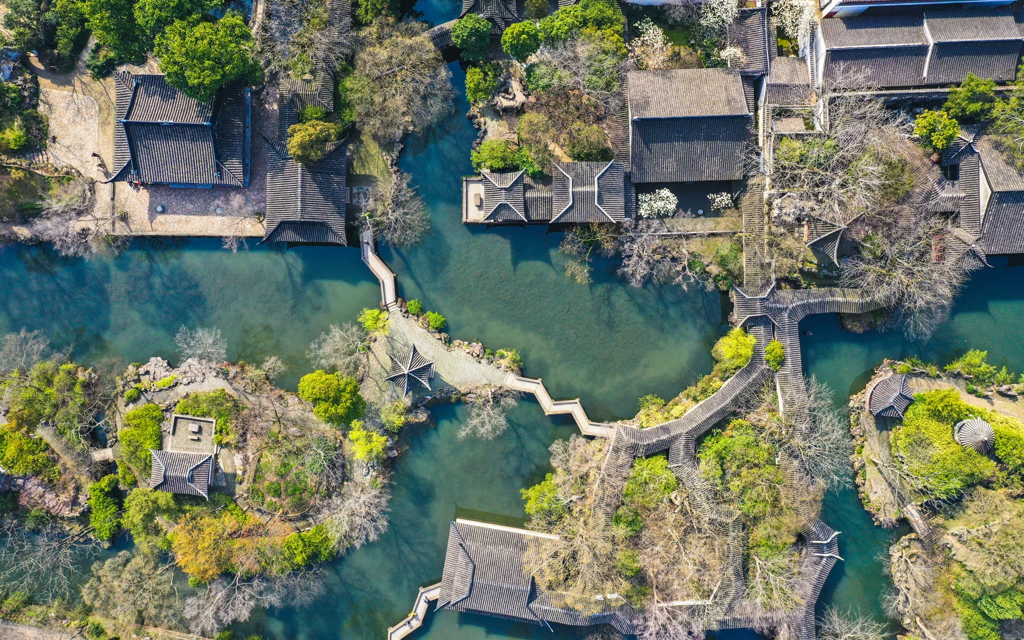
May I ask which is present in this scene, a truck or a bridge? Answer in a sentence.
I can see a bridge in this picture.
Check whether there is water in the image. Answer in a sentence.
Yes, there's water in this view.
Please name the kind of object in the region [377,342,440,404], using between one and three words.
building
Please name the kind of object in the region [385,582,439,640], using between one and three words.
bridge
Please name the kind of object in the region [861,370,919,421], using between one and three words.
building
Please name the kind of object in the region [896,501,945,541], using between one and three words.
bridge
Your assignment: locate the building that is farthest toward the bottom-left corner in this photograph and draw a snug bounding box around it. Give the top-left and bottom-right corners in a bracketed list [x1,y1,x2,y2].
[141,446,223,501]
